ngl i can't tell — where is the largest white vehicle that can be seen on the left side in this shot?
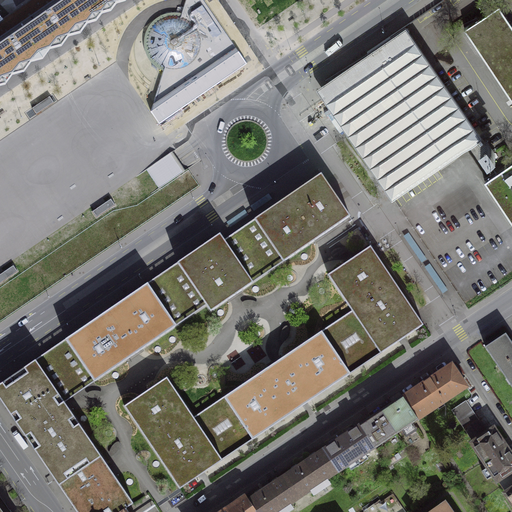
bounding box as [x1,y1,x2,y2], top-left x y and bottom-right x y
[13,430,29,449]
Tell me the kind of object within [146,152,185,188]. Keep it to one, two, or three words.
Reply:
building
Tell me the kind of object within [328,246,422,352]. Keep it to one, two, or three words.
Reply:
building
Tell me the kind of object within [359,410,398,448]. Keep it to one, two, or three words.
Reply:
house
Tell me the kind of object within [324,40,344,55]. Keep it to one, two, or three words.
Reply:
vehicle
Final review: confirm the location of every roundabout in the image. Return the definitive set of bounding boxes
[222,116,272,166]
